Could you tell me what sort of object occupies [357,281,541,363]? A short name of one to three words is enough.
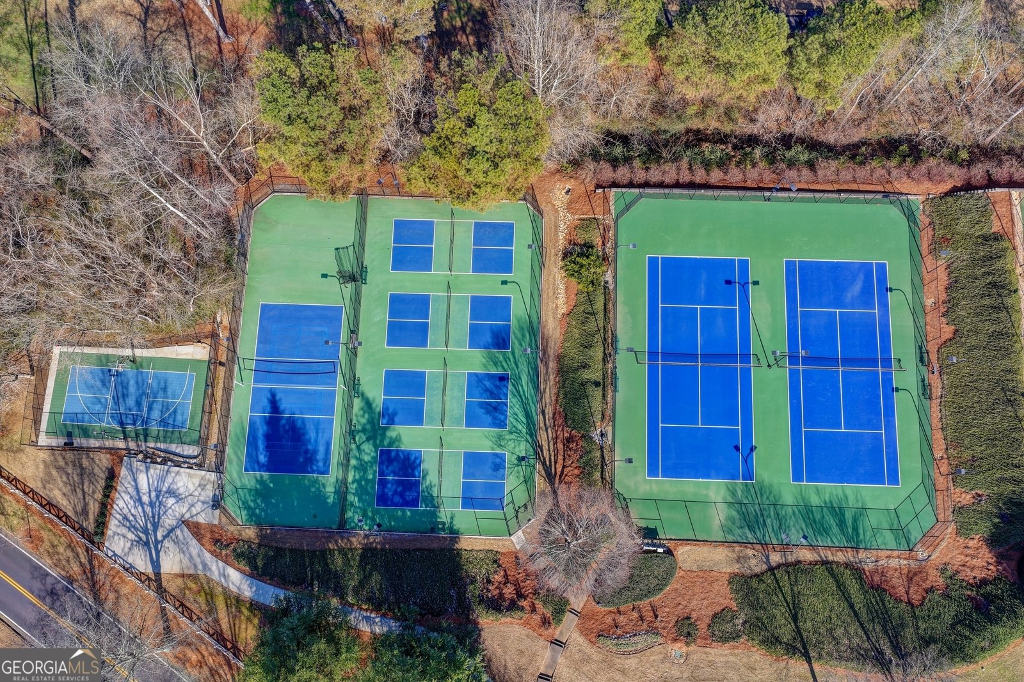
sports court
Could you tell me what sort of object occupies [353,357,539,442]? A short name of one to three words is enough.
sports court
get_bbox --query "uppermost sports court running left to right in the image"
[362,198,543,286]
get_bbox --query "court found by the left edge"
[38,345,210,456]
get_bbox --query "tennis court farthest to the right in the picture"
[765,193,936,550]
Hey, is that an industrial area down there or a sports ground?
sports ground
